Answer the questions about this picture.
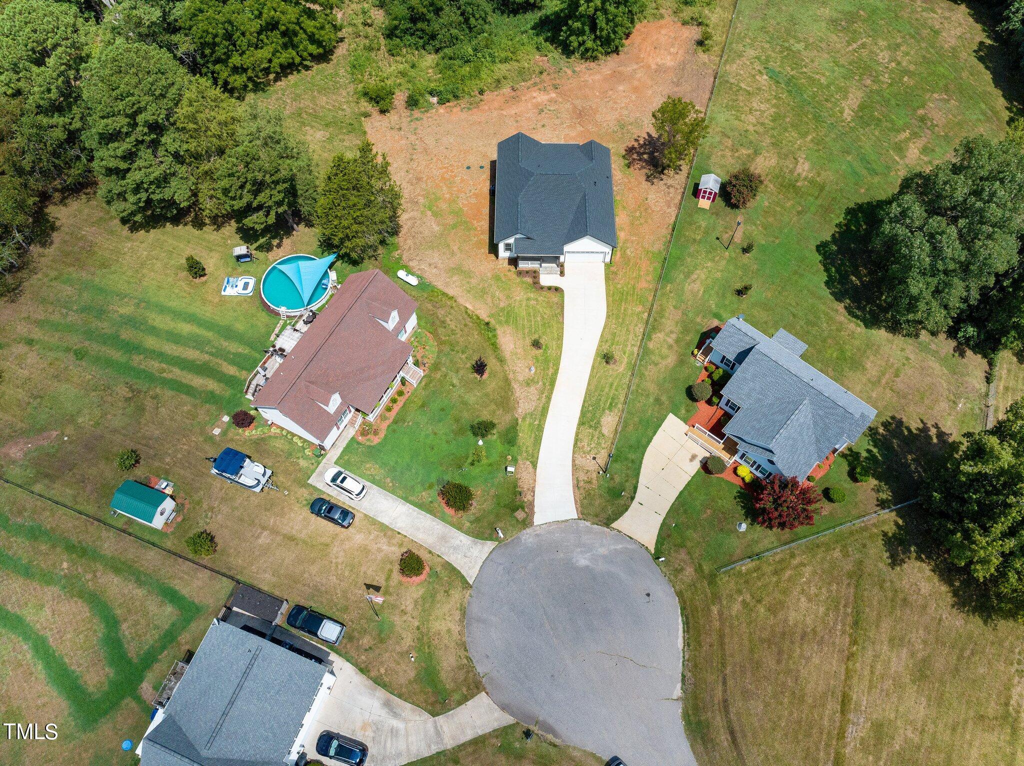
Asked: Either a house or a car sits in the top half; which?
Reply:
house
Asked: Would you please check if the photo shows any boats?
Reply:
Yes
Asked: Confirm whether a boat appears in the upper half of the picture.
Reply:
No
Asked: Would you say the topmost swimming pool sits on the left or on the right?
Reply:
left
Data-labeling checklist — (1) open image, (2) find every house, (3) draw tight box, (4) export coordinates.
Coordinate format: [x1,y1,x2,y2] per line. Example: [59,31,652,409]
[682,310,877,487]
[493,132,618,279]
[135,620,341,766]
[242,268,425,450]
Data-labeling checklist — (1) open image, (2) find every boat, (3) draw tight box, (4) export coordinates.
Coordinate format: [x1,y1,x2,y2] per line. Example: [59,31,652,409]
[205,444,272,491]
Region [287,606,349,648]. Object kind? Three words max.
truck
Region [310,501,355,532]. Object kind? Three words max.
car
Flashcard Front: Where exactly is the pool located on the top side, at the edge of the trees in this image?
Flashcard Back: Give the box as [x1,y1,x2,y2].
[260,254,333,323]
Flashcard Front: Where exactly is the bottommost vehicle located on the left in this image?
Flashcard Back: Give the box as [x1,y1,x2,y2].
[315,733,370,766]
